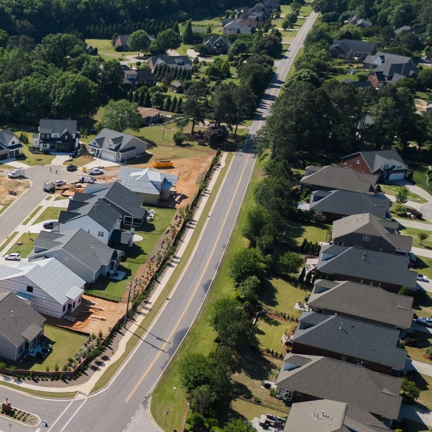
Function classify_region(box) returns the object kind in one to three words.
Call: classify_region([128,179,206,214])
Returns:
house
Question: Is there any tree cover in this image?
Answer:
Yes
